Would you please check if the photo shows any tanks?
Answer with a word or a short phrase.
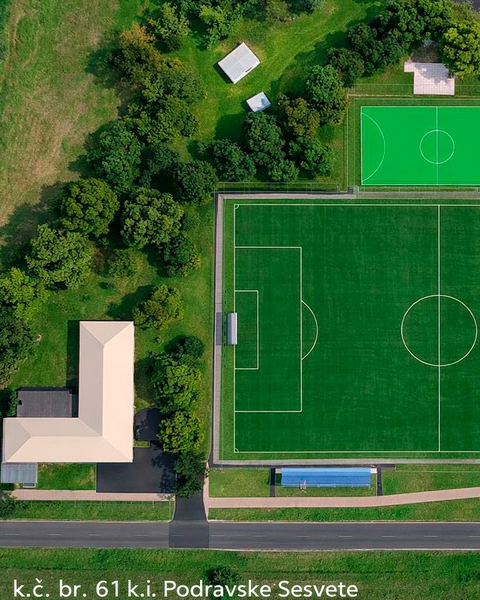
No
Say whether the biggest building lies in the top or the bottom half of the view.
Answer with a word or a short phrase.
bottom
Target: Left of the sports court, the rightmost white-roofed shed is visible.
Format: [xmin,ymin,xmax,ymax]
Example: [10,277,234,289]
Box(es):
[247,91,274,113]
